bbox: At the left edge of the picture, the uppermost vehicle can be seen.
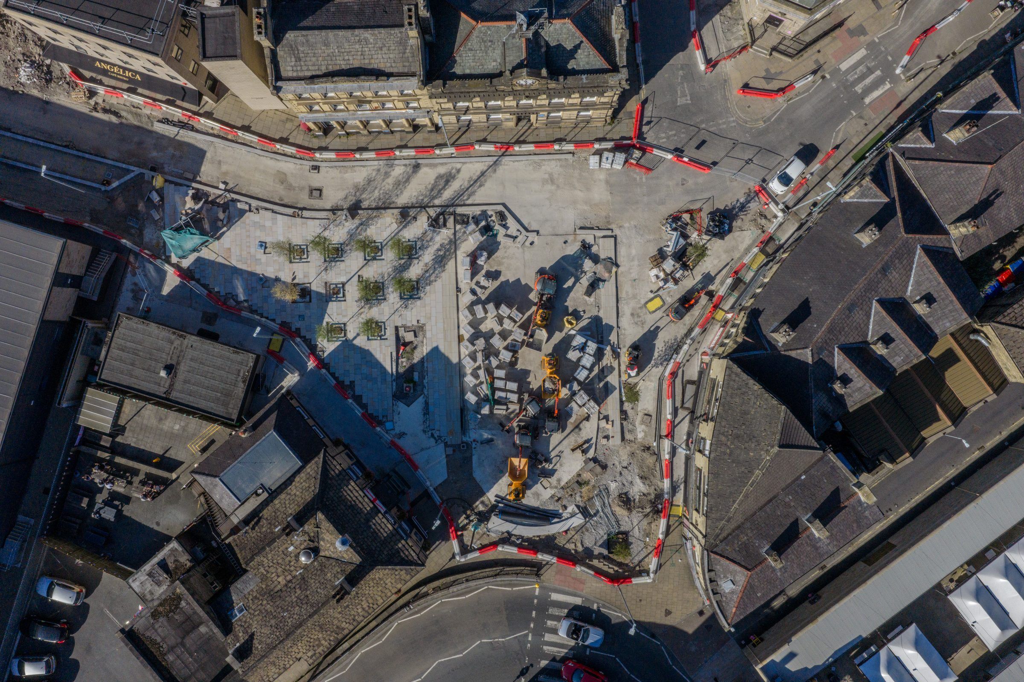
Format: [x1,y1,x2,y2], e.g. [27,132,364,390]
[37,574,88,605]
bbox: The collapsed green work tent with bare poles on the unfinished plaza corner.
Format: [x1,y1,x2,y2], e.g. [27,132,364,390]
[158,213,217,257]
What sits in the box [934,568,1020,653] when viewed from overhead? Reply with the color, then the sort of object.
white tent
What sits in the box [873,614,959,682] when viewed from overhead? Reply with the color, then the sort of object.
white tent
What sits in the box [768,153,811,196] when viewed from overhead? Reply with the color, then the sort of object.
white car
